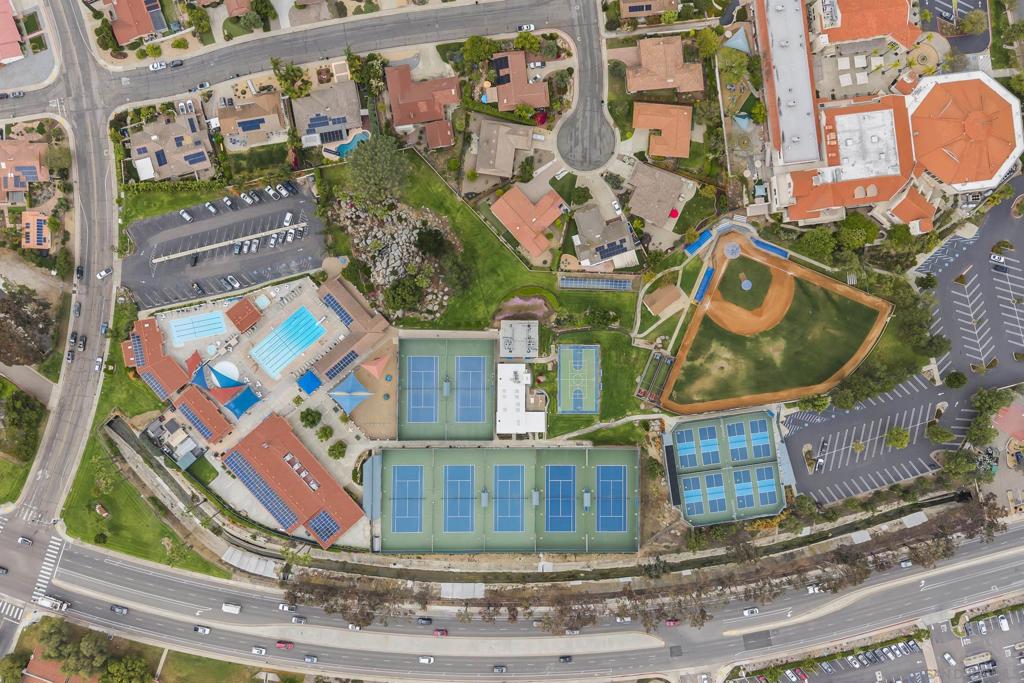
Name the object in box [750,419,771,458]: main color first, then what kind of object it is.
blue sports court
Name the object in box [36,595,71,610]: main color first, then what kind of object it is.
white vehicle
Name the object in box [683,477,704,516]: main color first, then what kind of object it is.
blue sports court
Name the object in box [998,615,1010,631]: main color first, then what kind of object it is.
white vehicle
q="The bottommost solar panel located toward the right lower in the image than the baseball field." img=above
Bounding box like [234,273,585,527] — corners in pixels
[665,446,680,506]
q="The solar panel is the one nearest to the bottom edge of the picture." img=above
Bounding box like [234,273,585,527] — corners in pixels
[308,512,338,542]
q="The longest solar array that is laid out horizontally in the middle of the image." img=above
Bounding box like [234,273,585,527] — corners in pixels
[559,277,632,289]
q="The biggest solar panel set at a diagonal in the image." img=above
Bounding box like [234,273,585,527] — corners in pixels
[224,453,295,529]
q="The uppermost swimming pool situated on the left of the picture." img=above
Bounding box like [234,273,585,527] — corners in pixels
[335,130,370,159]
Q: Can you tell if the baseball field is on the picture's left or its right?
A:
right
